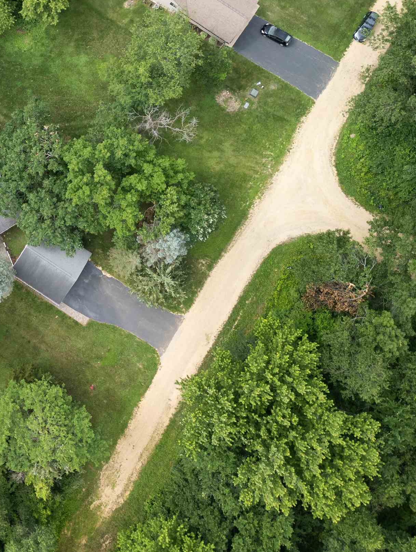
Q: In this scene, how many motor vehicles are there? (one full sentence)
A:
I count 2 motor vehicles.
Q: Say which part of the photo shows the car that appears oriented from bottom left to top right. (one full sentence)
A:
Look in the top right portion of the view to spot the car that appears oriented from bottom left to top right.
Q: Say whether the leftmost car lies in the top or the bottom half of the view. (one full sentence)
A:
The leftmost car is in the top half of the image.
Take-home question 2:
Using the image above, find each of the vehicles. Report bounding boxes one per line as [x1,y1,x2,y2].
[261,25,293,45]
[353,11,379,43]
